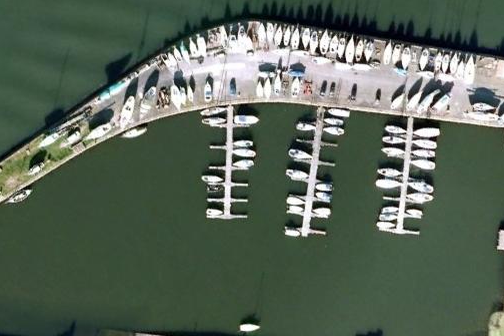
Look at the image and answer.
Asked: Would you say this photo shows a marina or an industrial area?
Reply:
marina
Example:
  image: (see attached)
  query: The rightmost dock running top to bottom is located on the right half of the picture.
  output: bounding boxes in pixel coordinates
[379,114,428,234]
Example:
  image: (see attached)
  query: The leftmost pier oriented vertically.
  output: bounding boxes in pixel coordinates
[206,105,250,220]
